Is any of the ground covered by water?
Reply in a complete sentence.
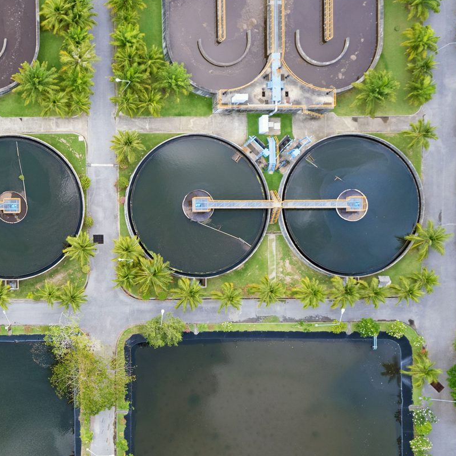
Yes, there is water in the image.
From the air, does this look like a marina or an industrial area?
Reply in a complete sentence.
This image shows an industrial area.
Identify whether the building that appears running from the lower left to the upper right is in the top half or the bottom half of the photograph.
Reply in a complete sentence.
The top half of the photo is where the building that appears running from the lower left to the upper right is.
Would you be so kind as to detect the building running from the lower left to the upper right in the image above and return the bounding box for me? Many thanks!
[274,133,311,170]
